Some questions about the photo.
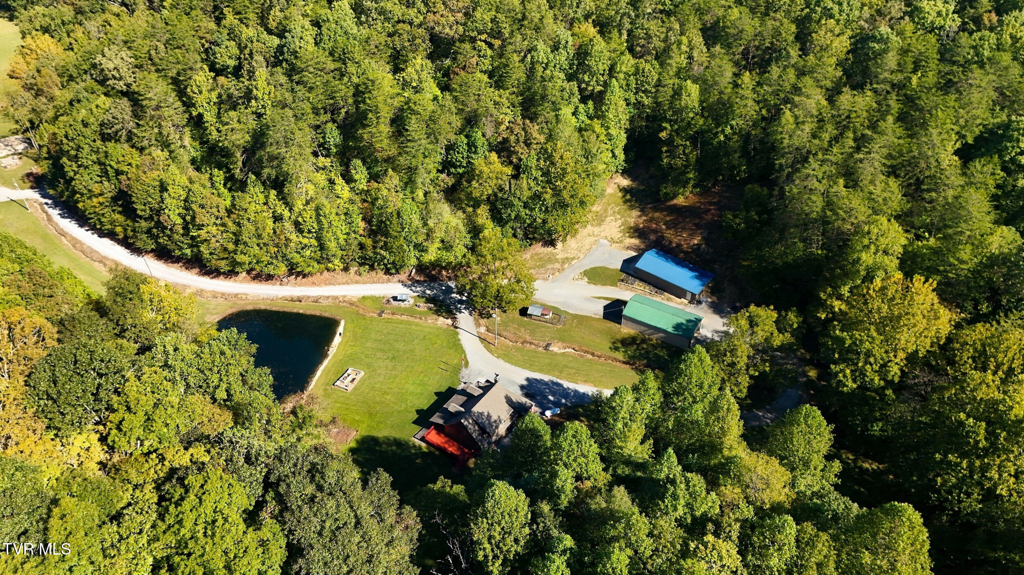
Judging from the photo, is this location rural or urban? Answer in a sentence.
The area shown here is rural.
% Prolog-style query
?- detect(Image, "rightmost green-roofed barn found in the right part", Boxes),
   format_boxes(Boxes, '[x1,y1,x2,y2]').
[620,293,704,347]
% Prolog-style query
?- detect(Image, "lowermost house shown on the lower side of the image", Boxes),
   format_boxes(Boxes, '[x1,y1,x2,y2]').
[424,373,535,472]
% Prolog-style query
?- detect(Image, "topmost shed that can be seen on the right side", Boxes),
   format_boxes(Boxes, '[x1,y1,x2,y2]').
[635,248,717,305]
